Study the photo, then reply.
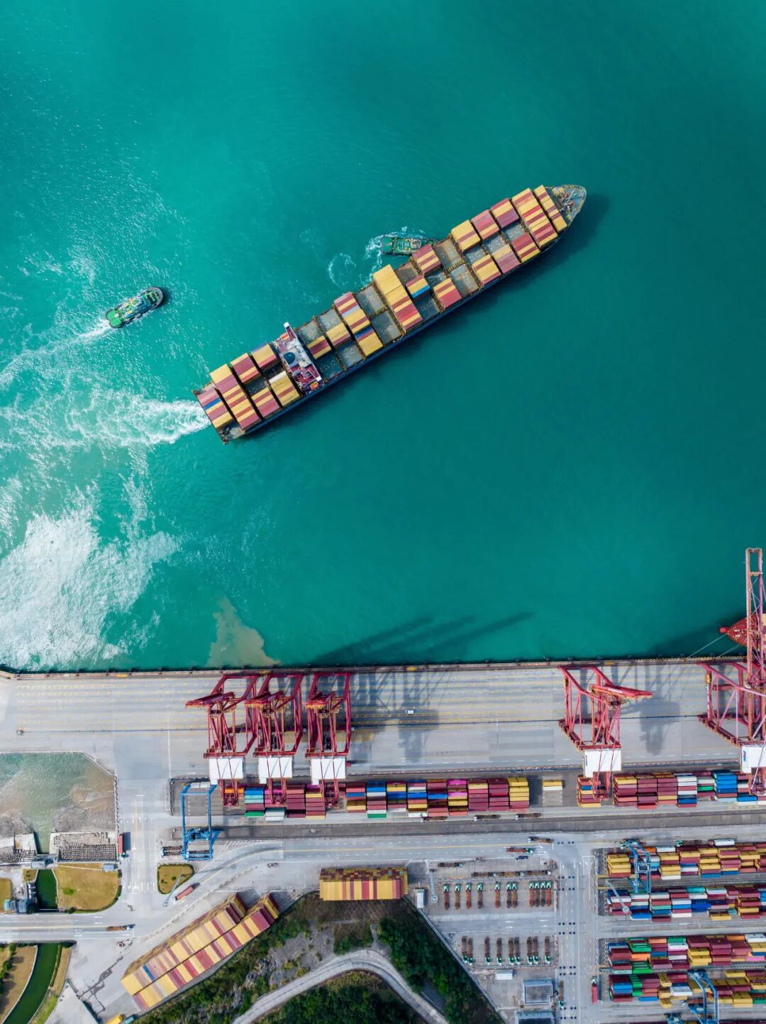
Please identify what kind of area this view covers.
port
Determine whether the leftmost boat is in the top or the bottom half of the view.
top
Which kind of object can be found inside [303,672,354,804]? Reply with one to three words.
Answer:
container crane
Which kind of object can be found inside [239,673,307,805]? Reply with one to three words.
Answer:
container crane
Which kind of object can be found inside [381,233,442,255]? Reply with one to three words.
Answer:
boat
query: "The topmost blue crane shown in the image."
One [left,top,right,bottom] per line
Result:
[179,784,220,860]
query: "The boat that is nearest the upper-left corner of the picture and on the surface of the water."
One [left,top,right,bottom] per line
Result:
[103,285,162,328]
